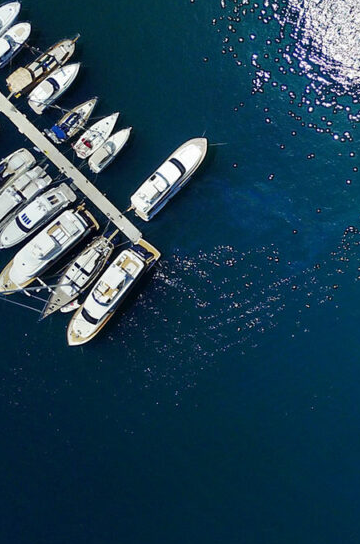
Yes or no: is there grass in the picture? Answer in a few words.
No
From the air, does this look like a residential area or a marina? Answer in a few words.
marina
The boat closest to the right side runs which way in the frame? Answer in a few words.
diagonally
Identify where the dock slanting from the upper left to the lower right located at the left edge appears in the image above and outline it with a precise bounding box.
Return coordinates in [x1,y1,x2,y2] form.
[0,92,144,240]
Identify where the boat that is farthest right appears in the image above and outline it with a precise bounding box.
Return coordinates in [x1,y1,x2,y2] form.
[126,130,224,222]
